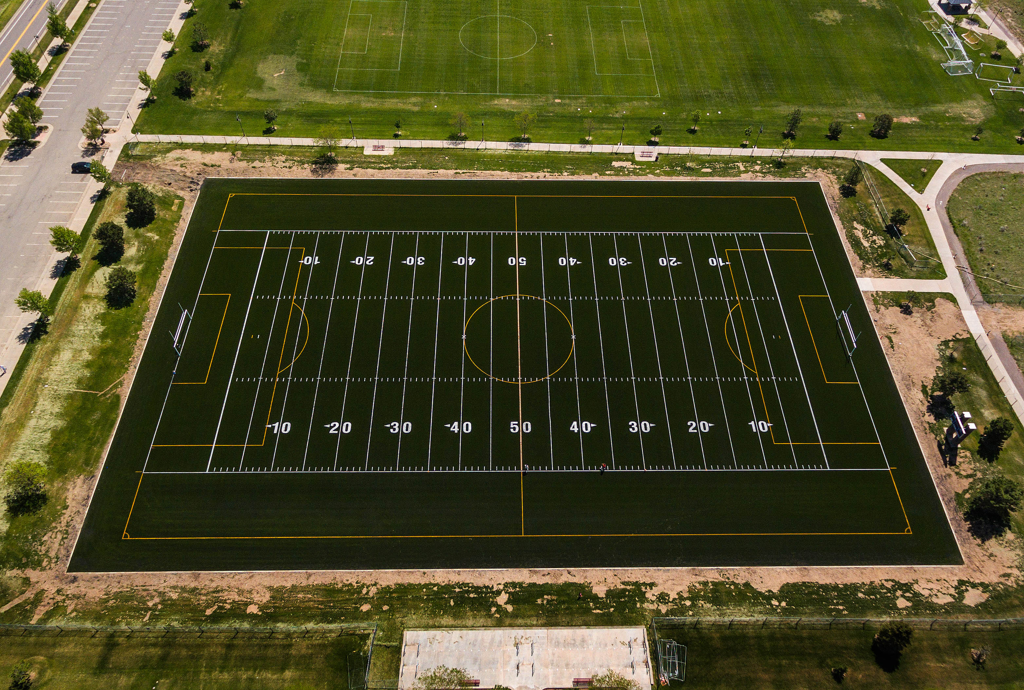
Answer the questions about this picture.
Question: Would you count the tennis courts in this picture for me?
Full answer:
There are no tennis courts in the image.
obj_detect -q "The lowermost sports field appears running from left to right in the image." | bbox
[64,176,967,576]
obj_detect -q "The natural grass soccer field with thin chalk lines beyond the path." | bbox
[332,0,660,97]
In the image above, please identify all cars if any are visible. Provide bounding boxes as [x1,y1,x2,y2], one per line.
[69,160,89,172]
